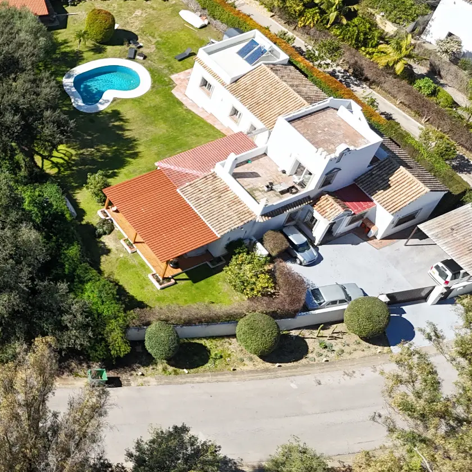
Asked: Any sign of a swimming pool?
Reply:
Yes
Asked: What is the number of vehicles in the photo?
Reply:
3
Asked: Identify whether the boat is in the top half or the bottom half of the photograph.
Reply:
top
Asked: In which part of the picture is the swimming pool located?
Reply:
top left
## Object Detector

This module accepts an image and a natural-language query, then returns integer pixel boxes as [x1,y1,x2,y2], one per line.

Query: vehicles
[427,255,470,288]
[280,221,324,267]
[303,281,366,316]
